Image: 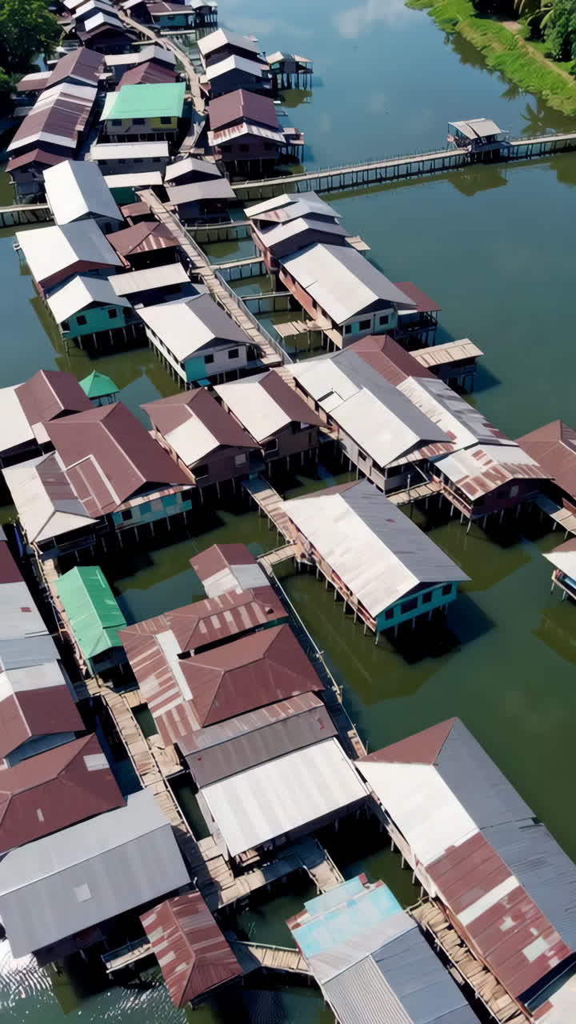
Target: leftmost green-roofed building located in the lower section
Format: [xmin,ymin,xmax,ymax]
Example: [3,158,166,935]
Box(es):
[54,565,128,677]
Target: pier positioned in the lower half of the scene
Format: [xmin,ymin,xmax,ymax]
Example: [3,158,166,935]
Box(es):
[98,933,159,982]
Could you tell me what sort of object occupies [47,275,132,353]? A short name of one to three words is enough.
house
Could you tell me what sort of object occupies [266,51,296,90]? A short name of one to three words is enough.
shed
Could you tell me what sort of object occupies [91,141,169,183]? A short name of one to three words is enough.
house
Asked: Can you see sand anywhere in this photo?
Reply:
No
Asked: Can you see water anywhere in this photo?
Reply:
Yes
